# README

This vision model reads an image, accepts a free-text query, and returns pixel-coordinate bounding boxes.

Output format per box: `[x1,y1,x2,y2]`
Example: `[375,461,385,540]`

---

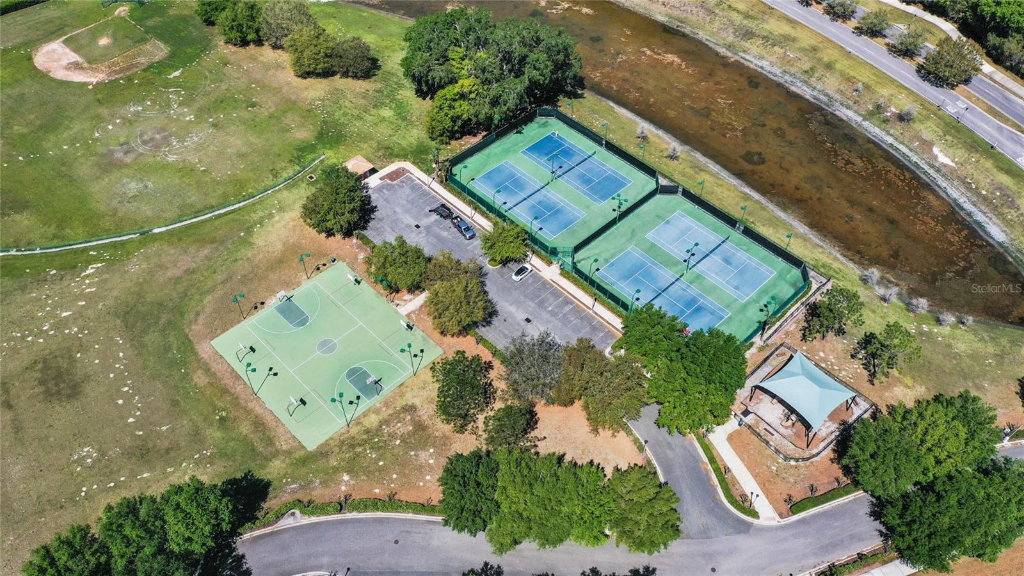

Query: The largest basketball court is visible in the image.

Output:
[212,261,443,450]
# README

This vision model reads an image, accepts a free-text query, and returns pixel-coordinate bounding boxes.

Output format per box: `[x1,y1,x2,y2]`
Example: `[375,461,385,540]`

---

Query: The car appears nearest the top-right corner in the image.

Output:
[511,263,533,280]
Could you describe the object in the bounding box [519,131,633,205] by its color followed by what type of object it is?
blue tennis court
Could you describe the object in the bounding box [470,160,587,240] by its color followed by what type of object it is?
blue tennis court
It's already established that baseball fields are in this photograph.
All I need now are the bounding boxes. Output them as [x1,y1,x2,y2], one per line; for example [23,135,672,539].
[32,8,171,83]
